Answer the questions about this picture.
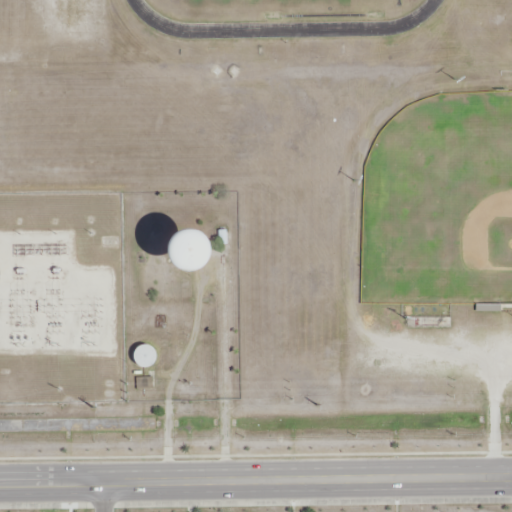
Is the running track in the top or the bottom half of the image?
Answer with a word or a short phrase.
top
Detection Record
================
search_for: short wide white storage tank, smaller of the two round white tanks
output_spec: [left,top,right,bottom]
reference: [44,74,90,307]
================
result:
[132,344,157,376]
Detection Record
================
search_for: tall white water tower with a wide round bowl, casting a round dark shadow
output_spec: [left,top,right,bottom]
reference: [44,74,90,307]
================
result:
[168,229,210,272]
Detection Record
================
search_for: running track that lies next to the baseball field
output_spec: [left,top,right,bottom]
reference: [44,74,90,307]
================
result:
[130,0,445,38]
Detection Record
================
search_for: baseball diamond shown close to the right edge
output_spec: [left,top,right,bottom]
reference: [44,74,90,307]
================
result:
[361,91,512,304]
